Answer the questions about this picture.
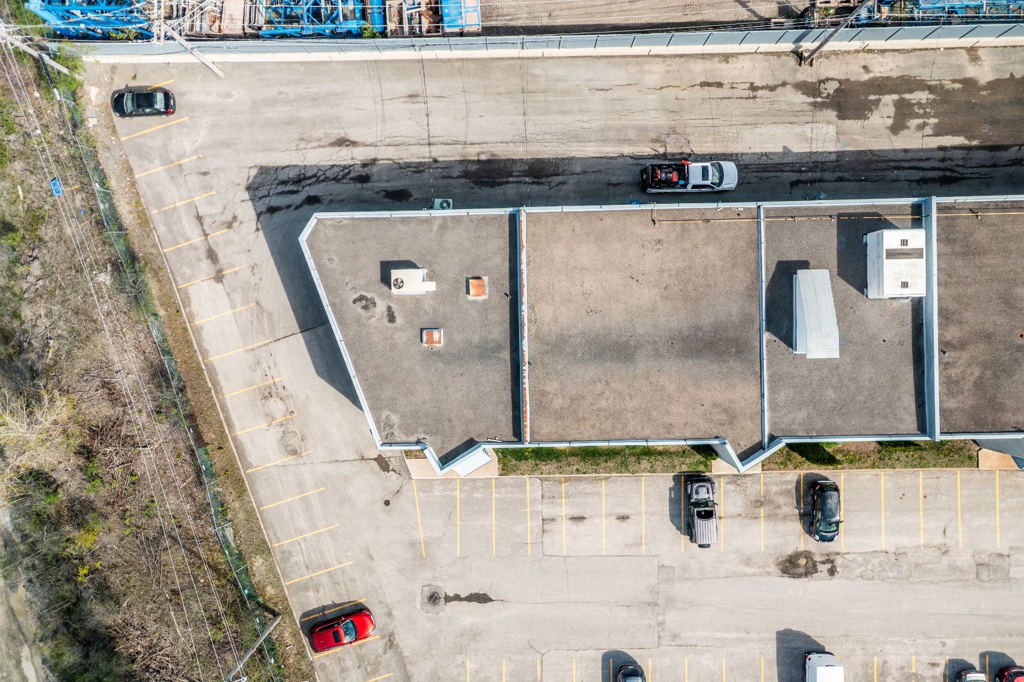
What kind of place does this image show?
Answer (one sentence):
It's a parking lot.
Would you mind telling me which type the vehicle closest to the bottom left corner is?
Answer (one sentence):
It looks like the vehicle closest to the bottom left corner is an automobile.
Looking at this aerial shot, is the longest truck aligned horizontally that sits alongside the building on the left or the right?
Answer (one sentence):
It is on the right.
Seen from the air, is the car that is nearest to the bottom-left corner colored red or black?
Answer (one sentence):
From above, the car that is nearest to the bottom-left corner appears red.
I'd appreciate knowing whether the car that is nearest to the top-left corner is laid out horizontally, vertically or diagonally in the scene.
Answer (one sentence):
In this picture, the car that is nearest to the top-left corner is oriented horizontally.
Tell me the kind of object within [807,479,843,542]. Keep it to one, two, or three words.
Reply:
car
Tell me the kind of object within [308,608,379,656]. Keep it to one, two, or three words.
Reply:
car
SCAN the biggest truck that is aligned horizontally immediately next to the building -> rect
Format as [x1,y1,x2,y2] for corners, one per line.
[635,157,738,194]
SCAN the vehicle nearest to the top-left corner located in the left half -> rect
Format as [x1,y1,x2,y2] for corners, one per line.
[114,87,179,119]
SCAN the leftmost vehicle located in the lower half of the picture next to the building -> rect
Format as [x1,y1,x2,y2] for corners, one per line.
[683,476,719,549]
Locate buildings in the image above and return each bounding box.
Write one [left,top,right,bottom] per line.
[299,195,1024,476]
